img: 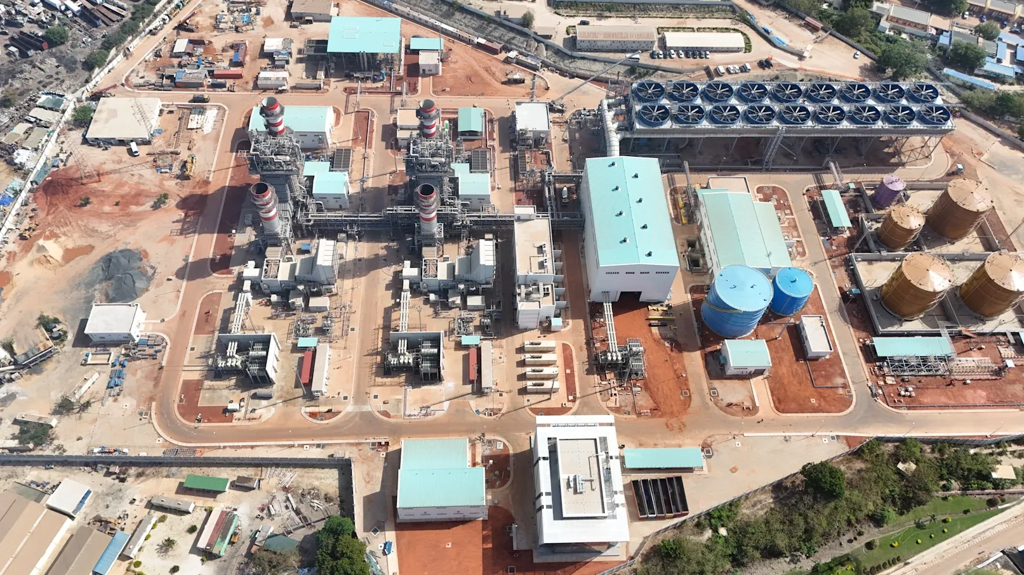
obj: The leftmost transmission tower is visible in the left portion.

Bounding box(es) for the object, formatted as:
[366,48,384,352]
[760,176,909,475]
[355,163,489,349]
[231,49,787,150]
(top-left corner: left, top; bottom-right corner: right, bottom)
[51,122,102,186]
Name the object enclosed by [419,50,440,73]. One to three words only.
building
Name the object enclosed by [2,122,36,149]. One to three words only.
shed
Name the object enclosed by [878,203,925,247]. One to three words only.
storage tank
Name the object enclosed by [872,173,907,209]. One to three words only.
storage tank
